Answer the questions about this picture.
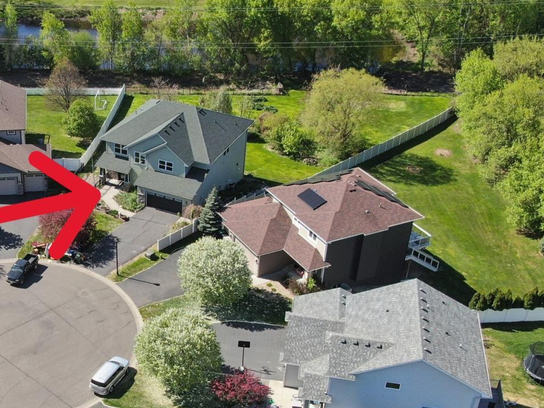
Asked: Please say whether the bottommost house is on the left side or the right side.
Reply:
right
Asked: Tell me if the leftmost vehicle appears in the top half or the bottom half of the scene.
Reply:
bottom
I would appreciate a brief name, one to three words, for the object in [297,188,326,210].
solar panel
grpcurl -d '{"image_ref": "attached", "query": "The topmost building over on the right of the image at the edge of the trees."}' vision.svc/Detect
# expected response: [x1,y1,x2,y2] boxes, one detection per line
[218,165,454,286]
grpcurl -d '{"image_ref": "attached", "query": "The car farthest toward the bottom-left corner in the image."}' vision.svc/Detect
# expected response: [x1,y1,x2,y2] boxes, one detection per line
[86,356,138,398]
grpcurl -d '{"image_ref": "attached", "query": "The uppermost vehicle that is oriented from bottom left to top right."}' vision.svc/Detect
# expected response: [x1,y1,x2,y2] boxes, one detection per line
[5,248,44,284]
